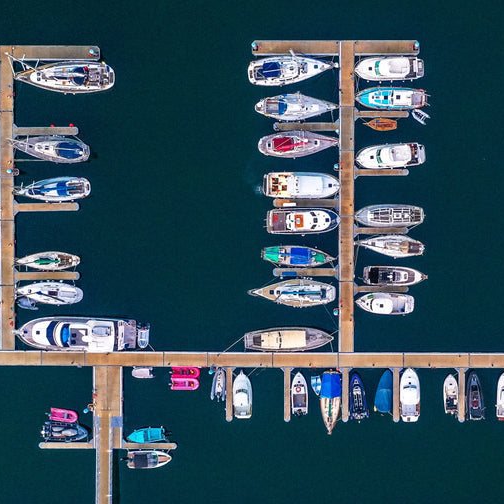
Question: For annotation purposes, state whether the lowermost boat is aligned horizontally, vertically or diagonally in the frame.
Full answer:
In this picture, the lowermost boat is oriented horizontally.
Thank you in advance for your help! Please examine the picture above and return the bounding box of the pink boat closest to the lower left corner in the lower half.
[47,407,77,424]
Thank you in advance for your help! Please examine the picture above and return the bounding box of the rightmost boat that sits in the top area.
[413,108,431,124]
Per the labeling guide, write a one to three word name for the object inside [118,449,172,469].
boat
